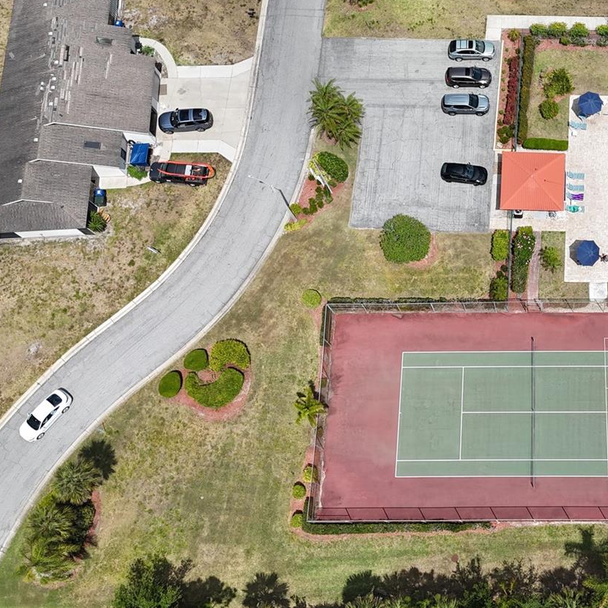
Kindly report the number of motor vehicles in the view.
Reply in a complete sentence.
I count 7 motor vehicles.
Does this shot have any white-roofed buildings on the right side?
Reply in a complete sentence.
No, on the right side there is no white-roofed building.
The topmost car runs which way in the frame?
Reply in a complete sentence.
In this picture, the topmost car is oriented horizontally.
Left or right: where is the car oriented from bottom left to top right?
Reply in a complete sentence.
The car oriented from bottom left to top right appears in the left half of the scene.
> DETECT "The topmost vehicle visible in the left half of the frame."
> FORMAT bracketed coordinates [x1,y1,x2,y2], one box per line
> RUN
[160,110,214,135]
